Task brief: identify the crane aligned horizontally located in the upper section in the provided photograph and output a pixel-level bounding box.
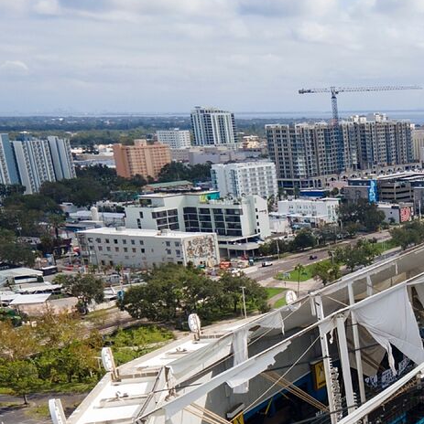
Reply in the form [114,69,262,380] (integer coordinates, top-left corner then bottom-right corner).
[294,83,420,137]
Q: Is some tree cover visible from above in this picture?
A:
Yes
